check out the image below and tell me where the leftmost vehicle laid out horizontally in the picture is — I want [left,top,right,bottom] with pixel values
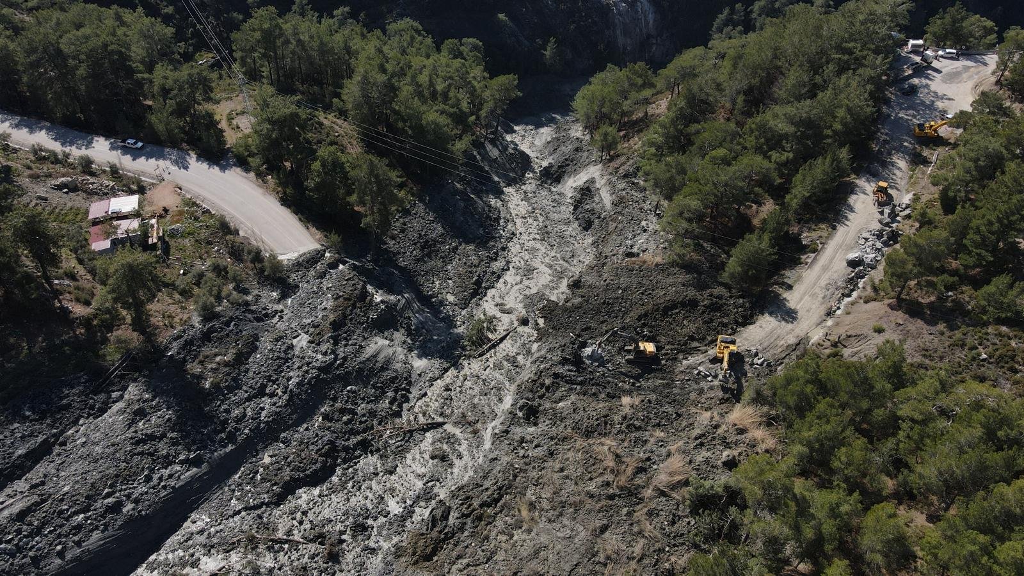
[118,136,145,148]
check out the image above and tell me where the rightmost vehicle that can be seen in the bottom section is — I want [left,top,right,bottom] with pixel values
[717,330,740,378]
